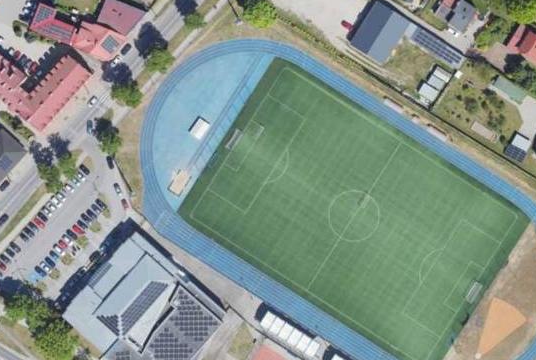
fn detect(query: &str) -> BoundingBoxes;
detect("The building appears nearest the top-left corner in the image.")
[29,1,77,45]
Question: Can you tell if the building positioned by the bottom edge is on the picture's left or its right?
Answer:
left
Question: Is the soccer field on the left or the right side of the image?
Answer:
right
